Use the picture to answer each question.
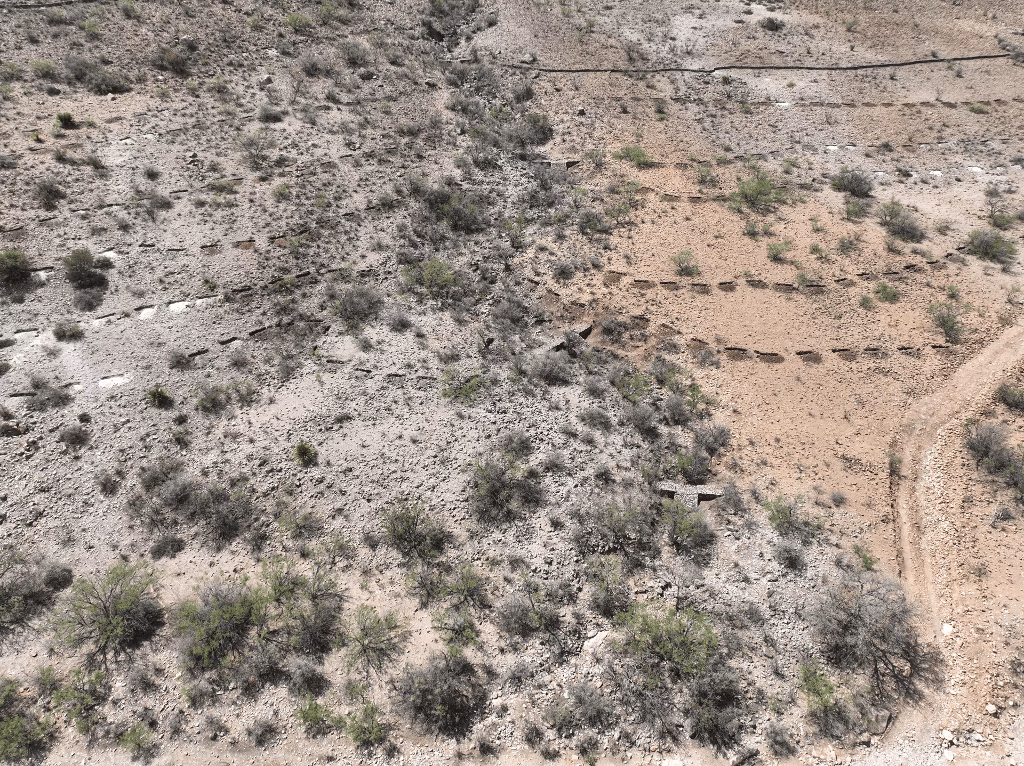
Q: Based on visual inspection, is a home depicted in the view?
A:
No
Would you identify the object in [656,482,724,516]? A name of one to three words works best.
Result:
dam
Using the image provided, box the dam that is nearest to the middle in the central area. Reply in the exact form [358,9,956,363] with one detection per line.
[540,324,592,362]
